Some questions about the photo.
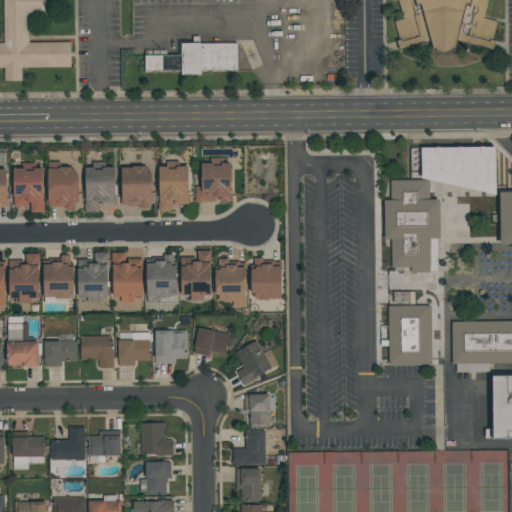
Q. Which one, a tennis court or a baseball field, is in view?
tennis court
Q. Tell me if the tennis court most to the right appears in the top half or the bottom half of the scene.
bottom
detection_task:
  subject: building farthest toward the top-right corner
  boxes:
[396,0,500,52]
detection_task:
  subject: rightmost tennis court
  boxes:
[472,450,508,512]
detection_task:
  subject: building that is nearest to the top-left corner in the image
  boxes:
[0,0,71,80]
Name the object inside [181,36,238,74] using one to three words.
building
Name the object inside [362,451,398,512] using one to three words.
tennis court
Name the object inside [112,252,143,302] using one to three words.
house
